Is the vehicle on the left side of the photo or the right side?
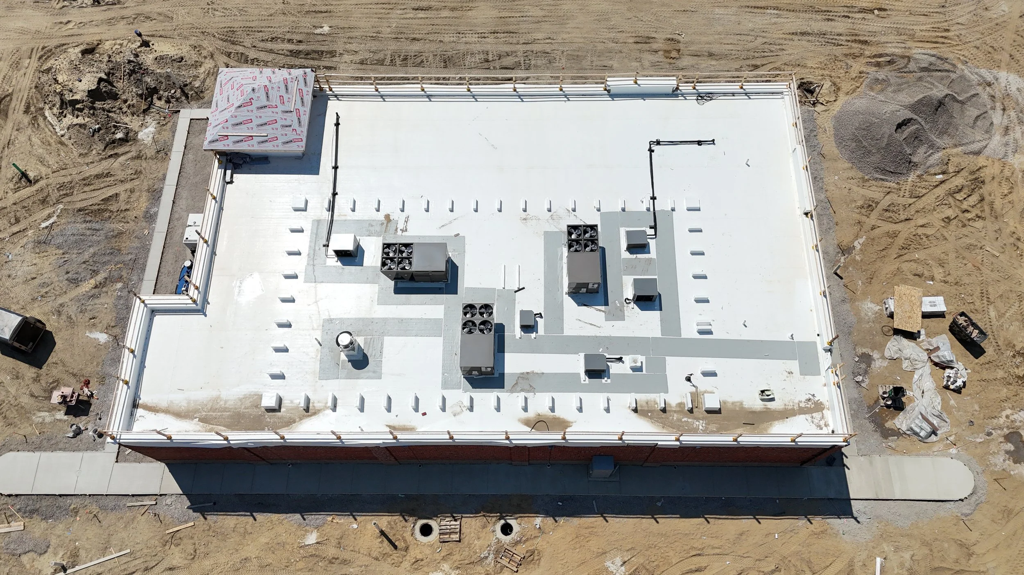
left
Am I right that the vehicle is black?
Yes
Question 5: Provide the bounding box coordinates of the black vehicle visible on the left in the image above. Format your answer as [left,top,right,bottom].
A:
[0,304,54,356]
